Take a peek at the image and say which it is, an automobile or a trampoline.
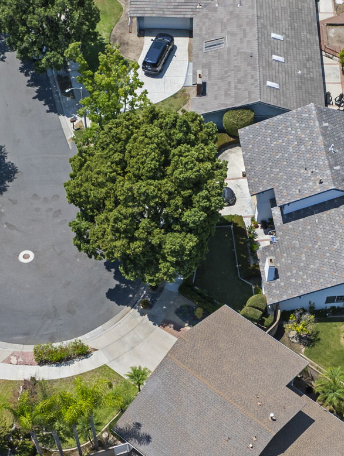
automobile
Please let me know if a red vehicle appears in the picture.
No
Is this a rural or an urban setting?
urban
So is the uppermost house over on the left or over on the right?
right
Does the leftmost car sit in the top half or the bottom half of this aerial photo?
top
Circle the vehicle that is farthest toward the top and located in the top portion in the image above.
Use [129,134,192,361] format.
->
[143,38,174,75]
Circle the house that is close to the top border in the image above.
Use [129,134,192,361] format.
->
[129,0,325,132]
